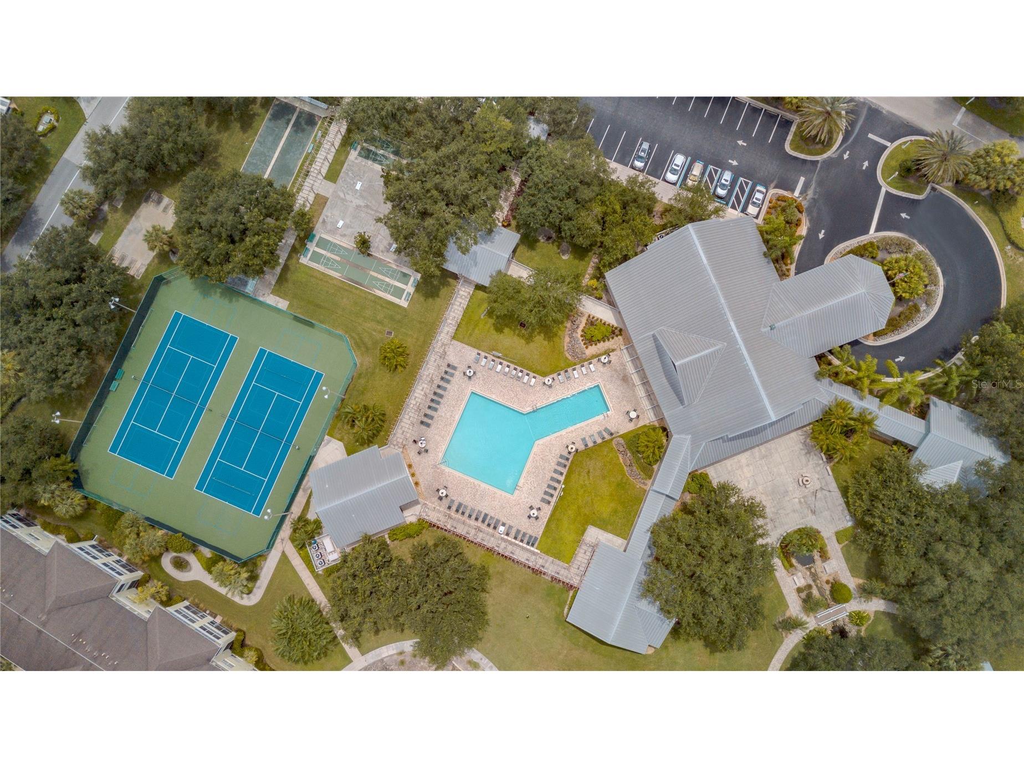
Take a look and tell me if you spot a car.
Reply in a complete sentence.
Yes, the picture does show a car.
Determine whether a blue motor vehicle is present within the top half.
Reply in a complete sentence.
No, I see no blue motor vehicle within the top half.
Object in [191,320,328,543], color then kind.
blue tennis court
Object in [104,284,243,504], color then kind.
blue tennis court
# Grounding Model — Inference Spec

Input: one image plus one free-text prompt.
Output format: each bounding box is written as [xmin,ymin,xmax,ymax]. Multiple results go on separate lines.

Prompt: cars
[633,140,651,171]
[746,184,767,218]
[666,151,686,184]
[715,168,733,199]
[685,158,706,189]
